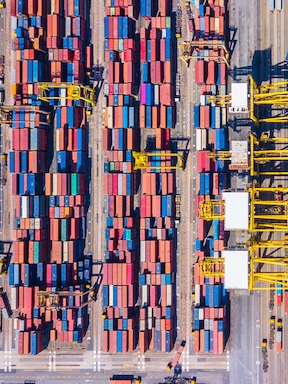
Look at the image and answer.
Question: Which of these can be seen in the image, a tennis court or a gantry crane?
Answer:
gantry crane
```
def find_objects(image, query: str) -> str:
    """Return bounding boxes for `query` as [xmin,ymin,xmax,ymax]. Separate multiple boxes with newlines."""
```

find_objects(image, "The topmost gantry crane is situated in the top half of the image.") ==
[177,41,227,68]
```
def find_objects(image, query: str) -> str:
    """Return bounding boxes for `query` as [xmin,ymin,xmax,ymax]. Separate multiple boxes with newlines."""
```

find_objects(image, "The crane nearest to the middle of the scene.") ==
[133,152,185,171]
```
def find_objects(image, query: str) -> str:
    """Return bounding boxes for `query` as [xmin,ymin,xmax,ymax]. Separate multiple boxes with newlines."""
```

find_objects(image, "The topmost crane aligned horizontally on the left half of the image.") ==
[36,81,94,105]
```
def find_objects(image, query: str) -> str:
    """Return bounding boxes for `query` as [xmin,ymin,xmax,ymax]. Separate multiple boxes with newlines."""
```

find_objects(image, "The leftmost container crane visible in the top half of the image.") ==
[0,105,52,128]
